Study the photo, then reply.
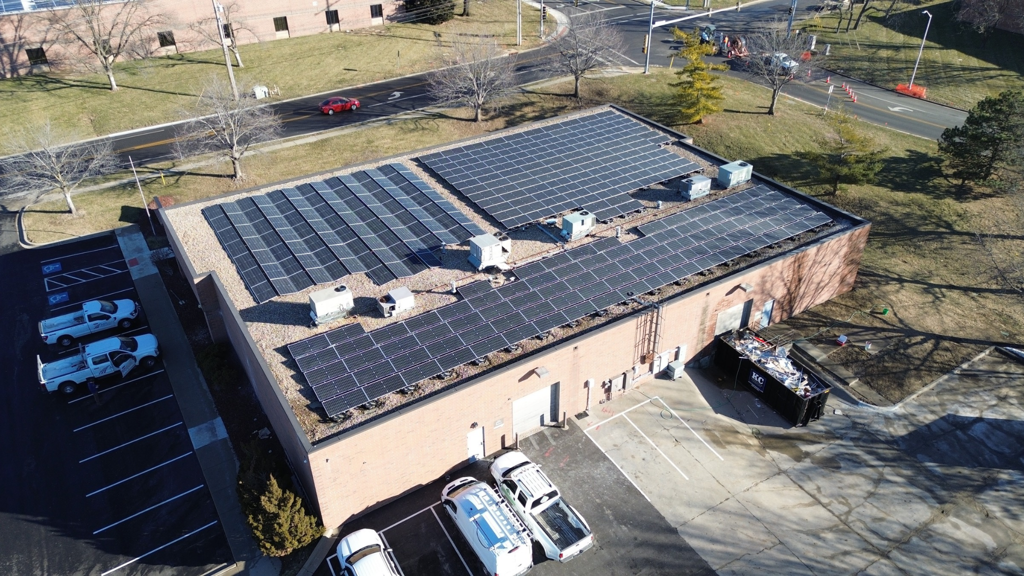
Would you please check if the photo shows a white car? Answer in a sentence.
Yes, there's a white car here.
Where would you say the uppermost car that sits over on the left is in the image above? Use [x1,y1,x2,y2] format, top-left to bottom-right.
[316,95,361,114]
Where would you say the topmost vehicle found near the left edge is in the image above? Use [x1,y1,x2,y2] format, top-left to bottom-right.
[39,300,140,347]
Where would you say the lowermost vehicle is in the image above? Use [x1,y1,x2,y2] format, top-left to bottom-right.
[336,530,402,576]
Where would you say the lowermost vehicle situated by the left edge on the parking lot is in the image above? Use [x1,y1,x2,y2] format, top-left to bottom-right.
[40,336,162,395]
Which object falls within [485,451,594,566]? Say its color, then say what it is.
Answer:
white truck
